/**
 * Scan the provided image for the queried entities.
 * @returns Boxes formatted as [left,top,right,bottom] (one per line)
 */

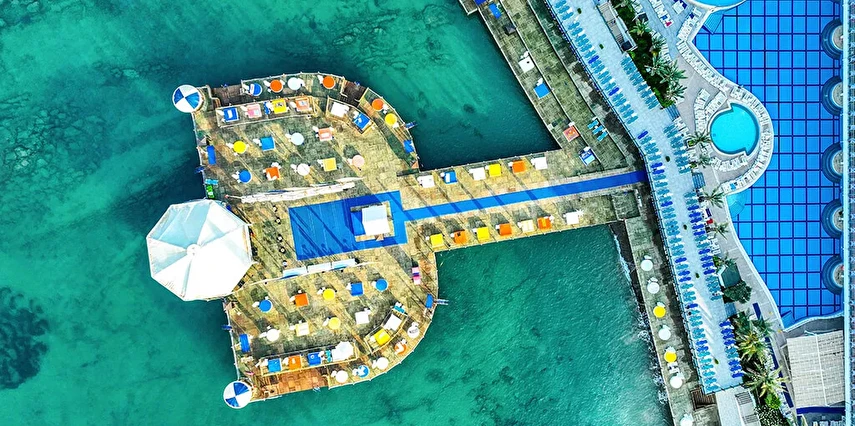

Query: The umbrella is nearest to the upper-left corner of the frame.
[172,84,203,114]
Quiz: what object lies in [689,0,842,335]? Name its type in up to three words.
swimming pool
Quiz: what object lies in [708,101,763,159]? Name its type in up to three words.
swimming pool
